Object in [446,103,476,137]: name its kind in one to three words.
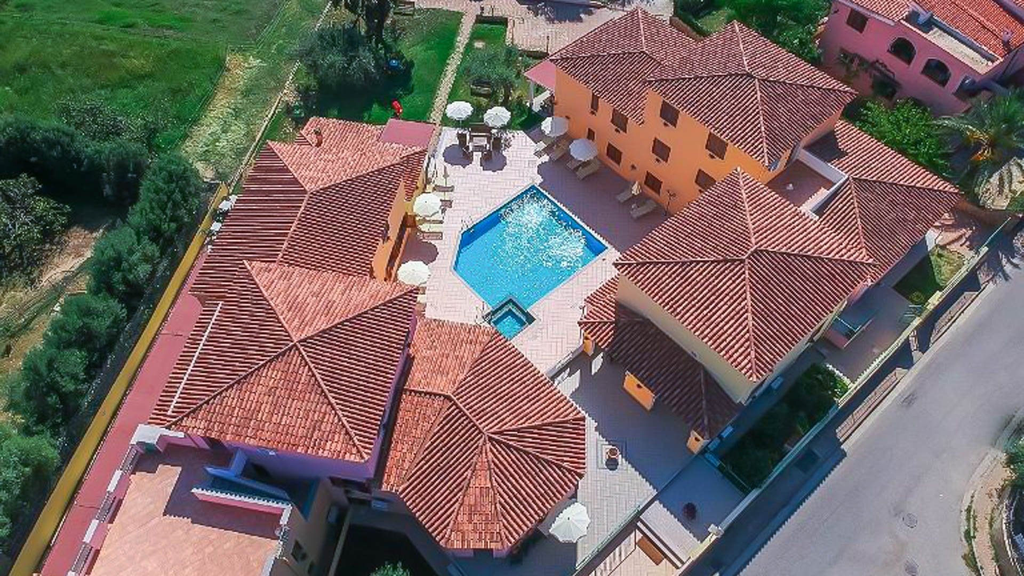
umbrella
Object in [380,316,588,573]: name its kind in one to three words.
building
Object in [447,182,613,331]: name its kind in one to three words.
swimming pool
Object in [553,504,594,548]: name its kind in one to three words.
umbrella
